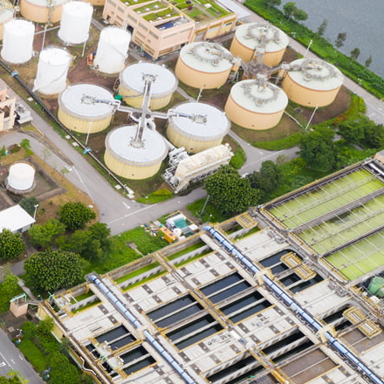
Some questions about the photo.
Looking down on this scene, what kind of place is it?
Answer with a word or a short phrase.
industrial area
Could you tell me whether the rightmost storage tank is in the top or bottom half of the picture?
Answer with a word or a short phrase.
top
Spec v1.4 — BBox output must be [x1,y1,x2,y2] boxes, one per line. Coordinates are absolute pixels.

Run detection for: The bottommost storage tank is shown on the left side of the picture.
[0,159,37,193]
